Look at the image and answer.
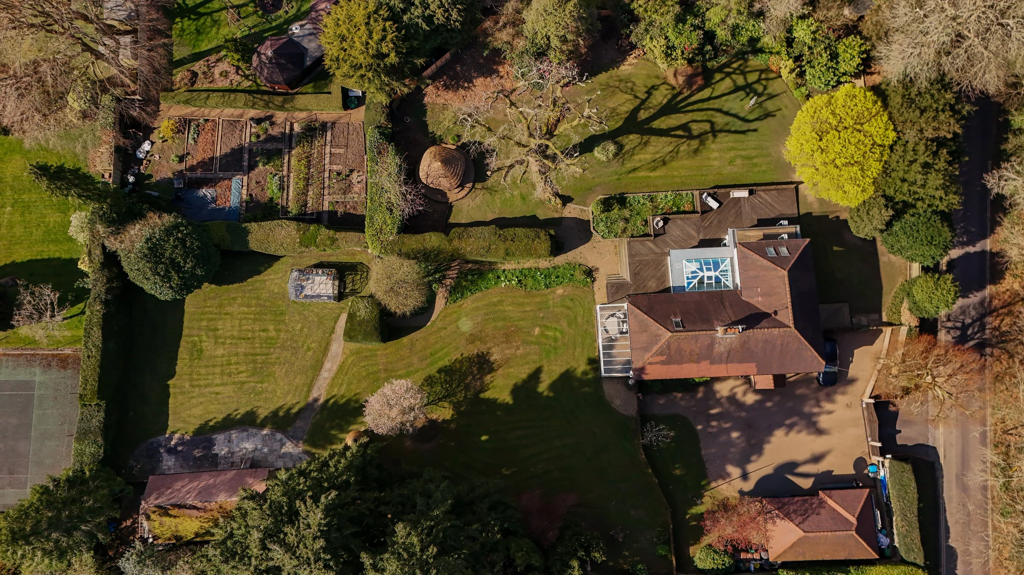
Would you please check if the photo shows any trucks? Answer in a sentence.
No, no truck can be seen from above.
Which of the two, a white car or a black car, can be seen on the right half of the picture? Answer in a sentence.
Looking on the right half of the picture, you will find a black car.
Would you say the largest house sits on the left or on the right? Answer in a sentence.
The largest house is on the right side of the image.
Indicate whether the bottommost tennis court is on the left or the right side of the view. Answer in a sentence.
The bottommost tennis court sits on the left side.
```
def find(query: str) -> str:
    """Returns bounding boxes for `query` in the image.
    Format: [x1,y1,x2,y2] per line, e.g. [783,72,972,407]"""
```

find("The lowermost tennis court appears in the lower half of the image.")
[0,354,81,484]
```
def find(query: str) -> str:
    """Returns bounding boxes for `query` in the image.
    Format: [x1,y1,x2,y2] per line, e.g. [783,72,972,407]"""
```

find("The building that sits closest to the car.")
[625,224,826,389]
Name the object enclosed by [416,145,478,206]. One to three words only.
shed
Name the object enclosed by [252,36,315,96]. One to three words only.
gazebo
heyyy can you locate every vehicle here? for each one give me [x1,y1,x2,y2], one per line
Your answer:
[816,340,841,387]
